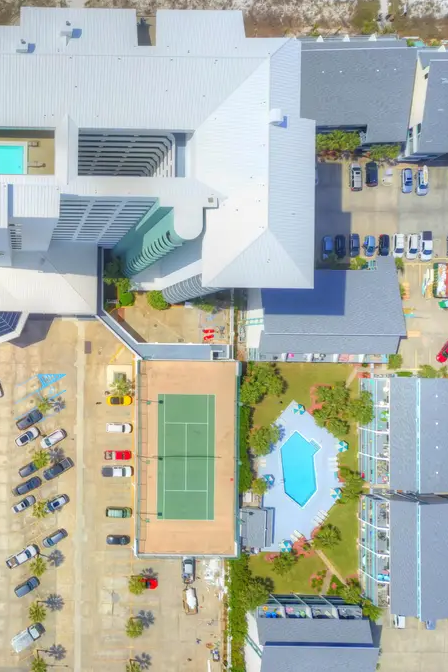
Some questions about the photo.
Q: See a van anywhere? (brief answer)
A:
Yes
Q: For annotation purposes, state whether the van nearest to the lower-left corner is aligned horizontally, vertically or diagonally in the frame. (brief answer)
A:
diagonally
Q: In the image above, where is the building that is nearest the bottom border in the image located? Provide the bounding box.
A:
[242,583,379,672]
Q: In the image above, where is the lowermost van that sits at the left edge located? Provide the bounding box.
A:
[11,624,44,655]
